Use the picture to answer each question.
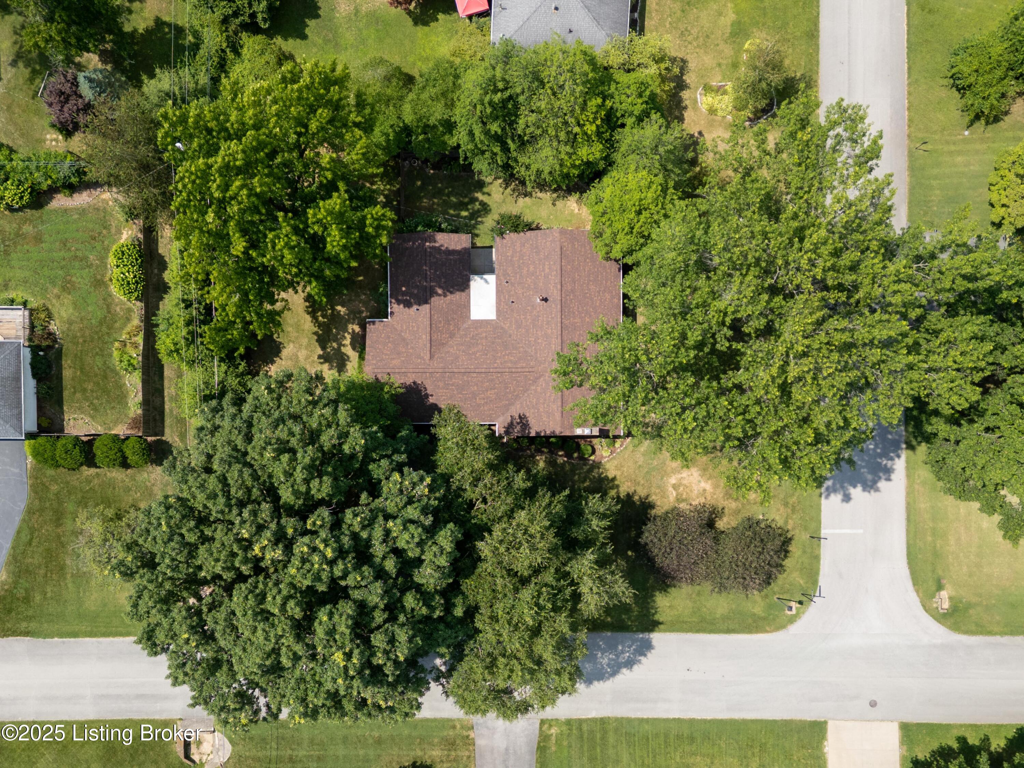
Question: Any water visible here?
No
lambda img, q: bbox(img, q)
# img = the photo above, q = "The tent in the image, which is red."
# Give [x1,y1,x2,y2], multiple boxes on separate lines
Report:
[456,0,490,27]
